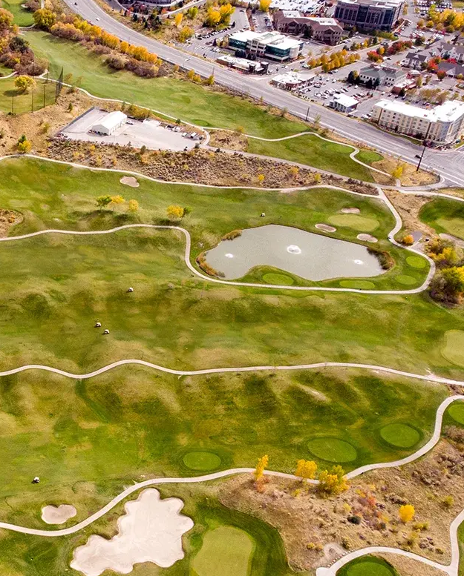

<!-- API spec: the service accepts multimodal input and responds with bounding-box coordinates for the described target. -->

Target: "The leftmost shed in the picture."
[89,111,128,136]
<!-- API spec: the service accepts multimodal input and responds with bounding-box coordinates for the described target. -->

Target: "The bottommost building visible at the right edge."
[369,96,464,144]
